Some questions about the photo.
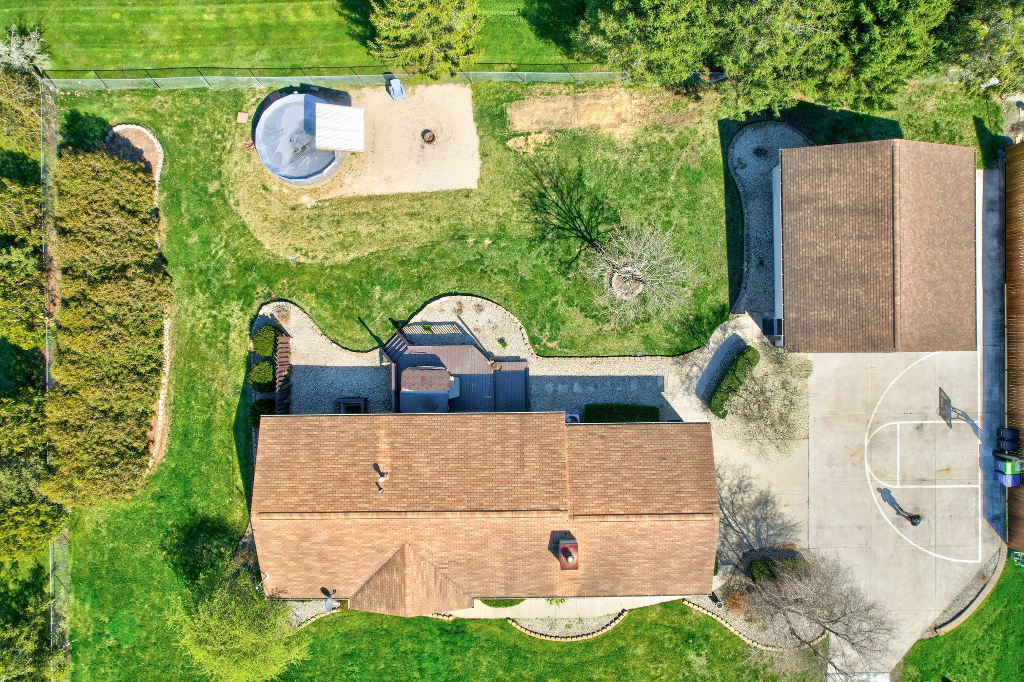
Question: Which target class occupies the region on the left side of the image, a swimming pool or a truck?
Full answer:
Looking on the left side of the image, you will find a swimming pool.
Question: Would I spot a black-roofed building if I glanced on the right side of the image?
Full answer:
No, there is no black-roofed building on the right side of the image.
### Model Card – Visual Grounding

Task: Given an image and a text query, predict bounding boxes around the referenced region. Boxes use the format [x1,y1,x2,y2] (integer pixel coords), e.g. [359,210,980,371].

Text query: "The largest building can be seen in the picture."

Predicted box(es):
[252,409,720,616]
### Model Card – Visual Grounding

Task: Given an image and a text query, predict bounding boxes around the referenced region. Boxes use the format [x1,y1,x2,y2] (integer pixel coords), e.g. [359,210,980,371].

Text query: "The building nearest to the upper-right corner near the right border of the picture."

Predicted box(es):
[758,139,978,354]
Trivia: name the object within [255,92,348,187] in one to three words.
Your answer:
swimming pool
